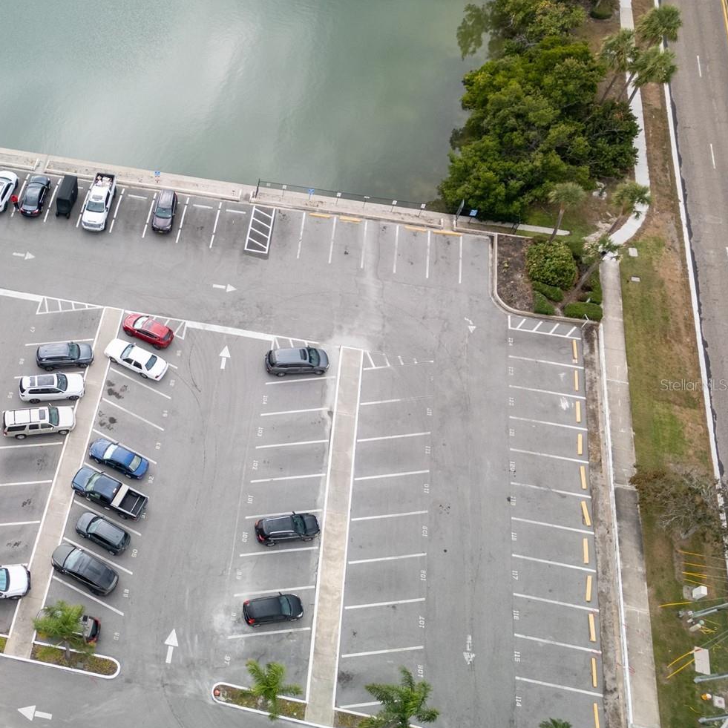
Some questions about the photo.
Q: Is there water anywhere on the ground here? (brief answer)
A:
Yes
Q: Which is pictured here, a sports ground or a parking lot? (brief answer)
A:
parking lot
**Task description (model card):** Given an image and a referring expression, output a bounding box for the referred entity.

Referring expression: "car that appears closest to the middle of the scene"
[264,345,330,378]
